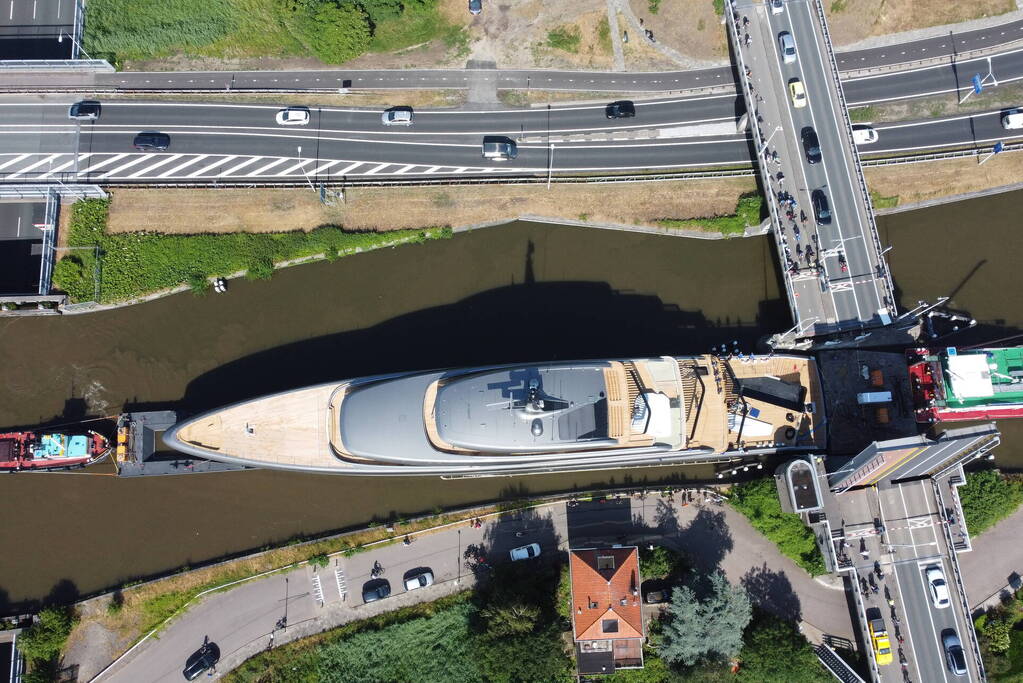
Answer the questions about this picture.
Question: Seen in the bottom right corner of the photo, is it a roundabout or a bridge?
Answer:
bridge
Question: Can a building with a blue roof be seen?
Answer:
No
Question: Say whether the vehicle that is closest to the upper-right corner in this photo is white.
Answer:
Yes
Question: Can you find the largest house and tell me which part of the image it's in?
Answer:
bottom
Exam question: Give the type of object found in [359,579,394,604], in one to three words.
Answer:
car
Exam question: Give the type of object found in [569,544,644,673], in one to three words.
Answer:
house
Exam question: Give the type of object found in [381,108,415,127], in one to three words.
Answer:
car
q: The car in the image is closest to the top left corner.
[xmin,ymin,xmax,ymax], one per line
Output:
[69,103,103,121]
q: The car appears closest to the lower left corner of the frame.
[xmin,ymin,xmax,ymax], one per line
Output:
[179,641,224,683]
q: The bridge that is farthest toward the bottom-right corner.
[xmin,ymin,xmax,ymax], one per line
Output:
[758,457,995,683]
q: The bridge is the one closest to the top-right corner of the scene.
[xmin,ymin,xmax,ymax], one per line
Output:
[725,0,918,356]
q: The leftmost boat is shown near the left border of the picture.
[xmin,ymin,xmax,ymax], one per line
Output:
[0,430,115,476]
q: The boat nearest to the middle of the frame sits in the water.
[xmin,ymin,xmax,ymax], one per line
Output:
[163,352,830,480]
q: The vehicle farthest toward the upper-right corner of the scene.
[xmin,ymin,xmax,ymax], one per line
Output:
[999,109,1023,130]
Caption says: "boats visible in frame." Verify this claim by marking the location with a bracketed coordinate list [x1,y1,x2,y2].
[0,430,115,476]
[903,344,1023,424]
[163,352,830,480]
